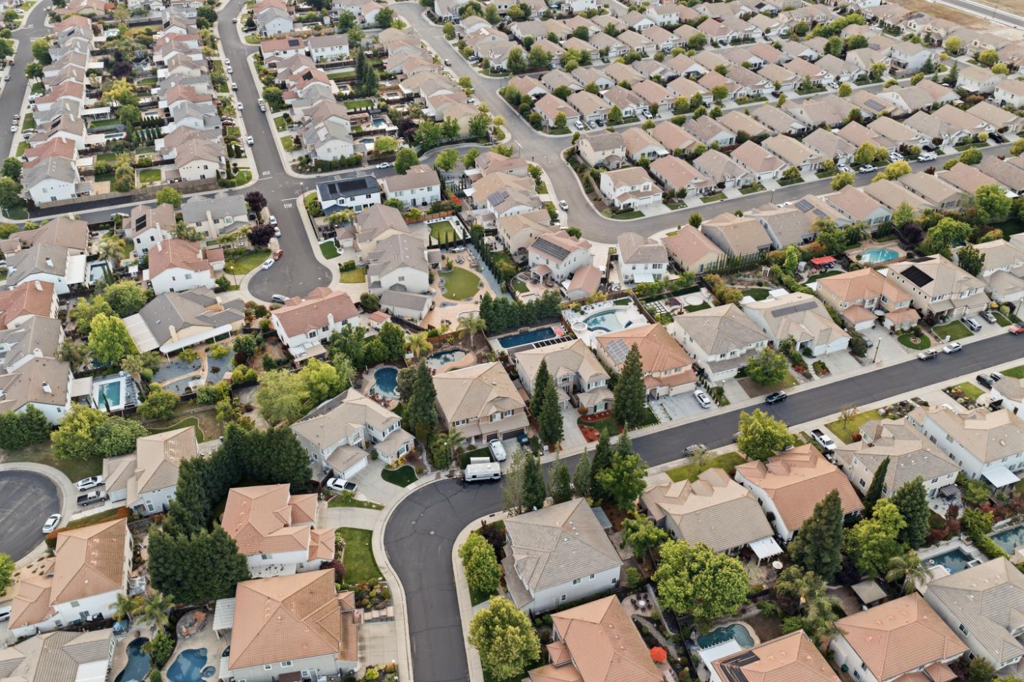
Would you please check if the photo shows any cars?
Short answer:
Yes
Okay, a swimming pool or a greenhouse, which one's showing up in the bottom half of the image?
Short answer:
swimming pool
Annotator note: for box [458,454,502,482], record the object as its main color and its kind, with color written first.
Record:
white trailer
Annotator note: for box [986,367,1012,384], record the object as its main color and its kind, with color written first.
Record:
white car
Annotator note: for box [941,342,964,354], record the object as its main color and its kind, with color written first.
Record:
white vehicle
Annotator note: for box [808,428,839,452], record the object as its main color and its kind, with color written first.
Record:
white truck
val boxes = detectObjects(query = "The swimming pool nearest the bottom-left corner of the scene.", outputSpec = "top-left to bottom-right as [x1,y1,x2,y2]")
[117,635,154,682]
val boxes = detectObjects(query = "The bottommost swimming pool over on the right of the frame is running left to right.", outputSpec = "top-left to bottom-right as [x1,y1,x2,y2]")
[697,622,757,650]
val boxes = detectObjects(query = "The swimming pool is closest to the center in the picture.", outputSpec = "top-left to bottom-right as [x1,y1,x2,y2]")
[497,326,556,349]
